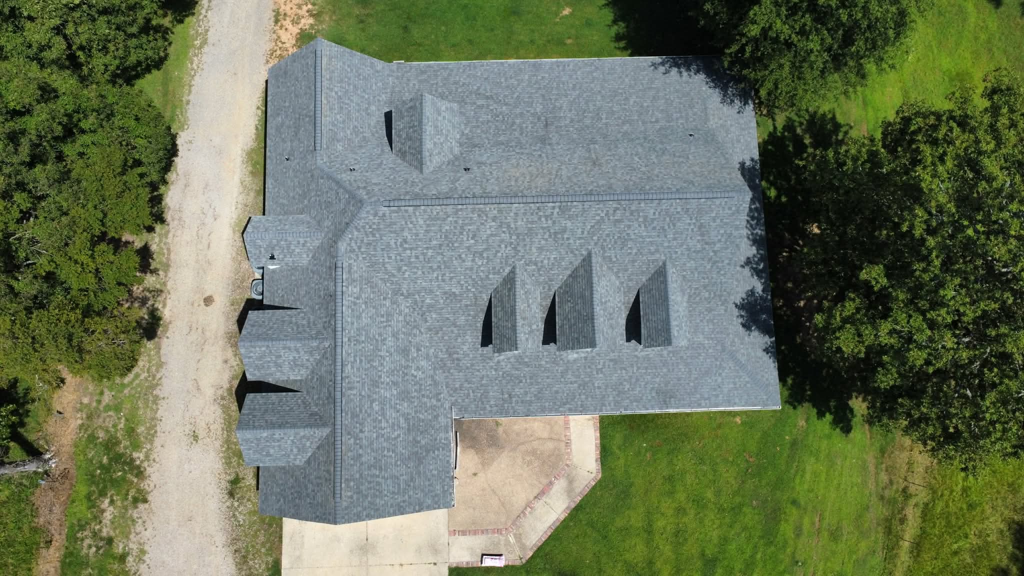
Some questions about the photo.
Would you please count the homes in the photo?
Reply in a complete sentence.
I count just 1 home.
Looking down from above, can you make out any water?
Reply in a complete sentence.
No, no water is visible.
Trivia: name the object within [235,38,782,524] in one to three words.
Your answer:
house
